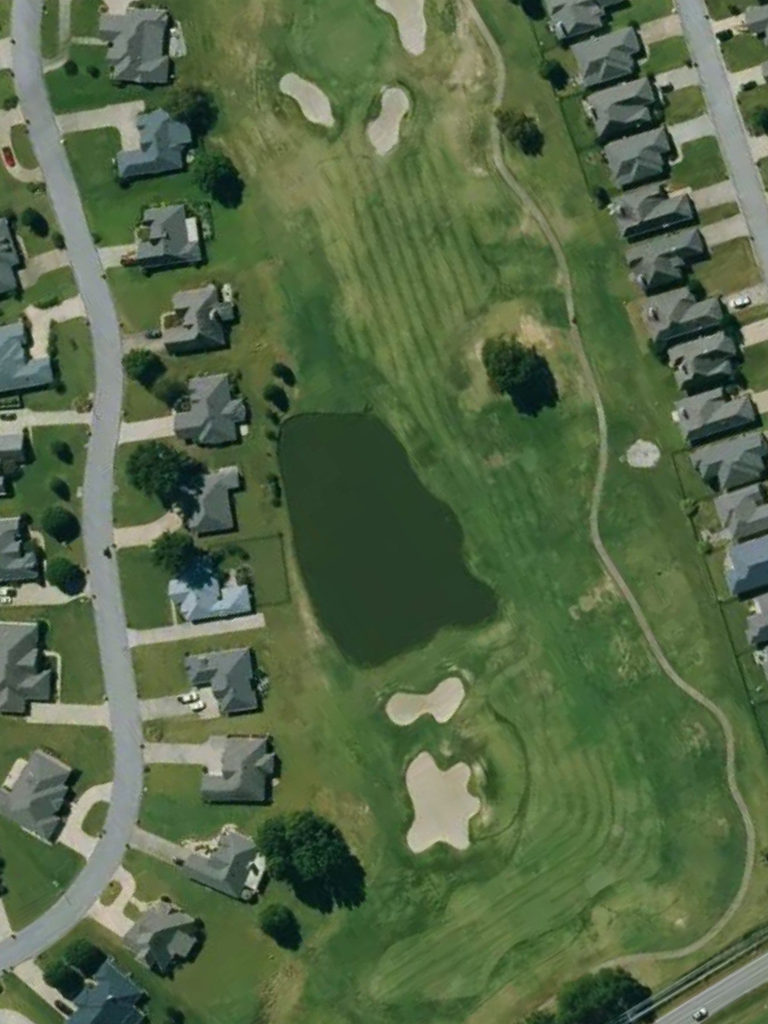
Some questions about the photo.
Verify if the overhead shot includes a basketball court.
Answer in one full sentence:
No, no basketball court is visible in the scene.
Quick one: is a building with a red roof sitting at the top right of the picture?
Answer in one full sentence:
No, looking at the top right of the picture, there is no building with a red roof.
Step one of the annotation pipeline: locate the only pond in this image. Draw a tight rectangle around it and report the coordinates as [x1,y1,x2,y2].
[279,413,498,668]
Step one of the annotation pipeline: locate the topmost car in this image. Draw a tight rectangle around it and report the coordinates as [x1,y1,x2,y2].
[2,146,14,167]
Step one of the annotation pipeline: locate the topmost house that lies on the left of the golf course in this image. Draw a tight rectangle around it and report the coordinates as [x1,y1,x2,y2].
[98,8,170,82]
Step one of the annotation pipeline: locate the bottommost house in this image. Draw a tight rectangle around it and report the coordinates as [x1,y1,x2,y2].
[54,960,155,1024]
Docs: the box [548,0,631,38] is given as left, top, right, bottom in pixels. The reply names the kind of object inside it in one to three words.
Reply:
house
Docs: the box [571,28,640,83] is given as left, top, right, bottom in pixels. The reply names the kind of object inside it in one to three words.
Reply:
house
